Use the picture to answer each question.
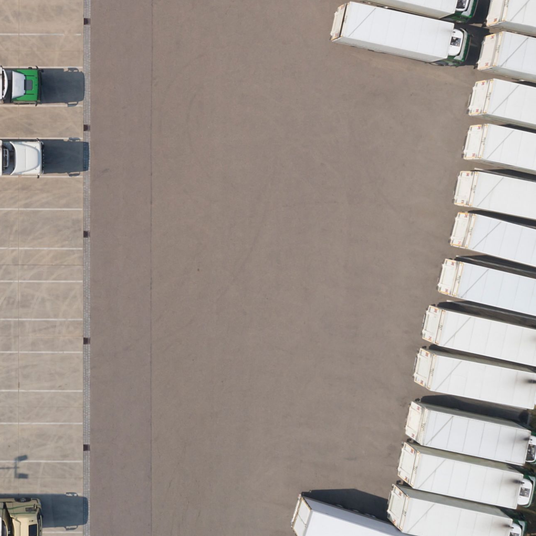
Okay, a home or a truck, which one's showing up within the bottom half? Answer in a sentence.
You can see a truck within the bottom half.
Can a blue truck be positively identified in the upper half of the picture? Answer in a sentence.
No, no blue truck is visible in the upper half of the picture.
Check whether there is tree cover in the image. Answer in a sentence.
No, tree cover can't be seen anywhere here.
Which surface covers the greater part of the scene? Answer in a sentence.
Most of the picture is covered by paved ground.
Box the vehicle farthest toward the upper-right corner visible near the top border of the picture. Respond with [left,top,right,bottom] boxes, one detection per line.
[481,0,536,37]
